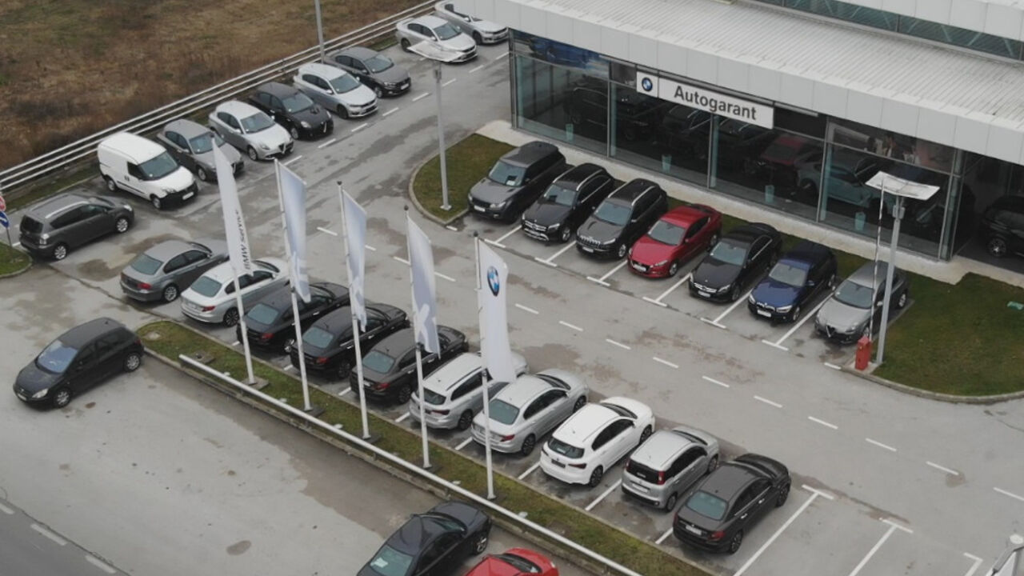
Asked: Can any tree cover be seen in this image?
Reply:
No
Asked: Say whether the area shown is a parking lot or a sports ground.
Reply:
parking lot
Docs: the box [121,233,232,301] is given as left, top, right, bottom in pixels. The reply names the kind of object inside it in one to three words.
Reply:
car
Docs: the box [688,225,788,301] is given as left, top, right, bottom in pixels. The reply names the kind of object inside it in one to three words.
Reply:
car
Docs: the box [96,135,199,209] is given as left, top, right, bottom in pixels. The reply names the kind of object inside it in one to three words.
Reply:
van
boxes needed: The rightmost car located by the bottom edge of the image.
[673,454,795,558]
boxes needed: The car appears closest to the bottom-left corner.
[12,317,146,410]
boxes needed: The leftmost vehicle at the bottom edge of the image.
[340,500,493,576]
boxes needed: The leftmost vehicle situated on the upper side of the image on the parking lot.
[15,194,133,261]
